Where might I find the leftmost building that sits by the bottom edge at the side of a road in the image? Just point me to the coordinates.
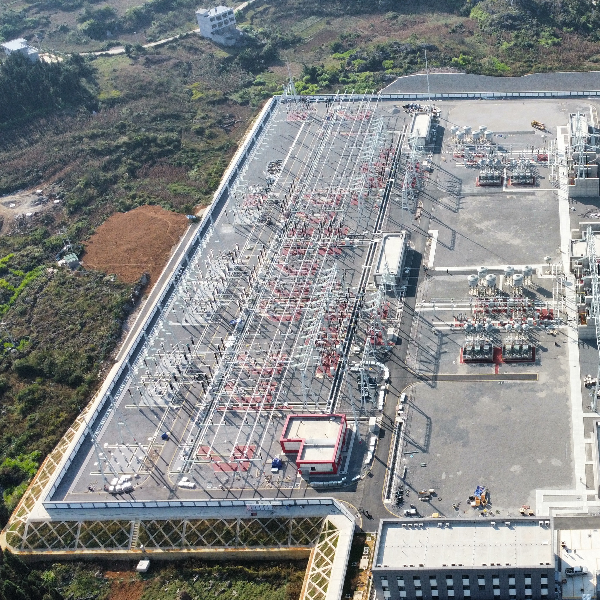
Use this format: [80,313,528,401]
[373,517,555,600]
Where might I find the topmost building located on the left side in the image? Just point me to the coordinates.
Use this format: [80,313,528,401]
[192,8,235,42]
